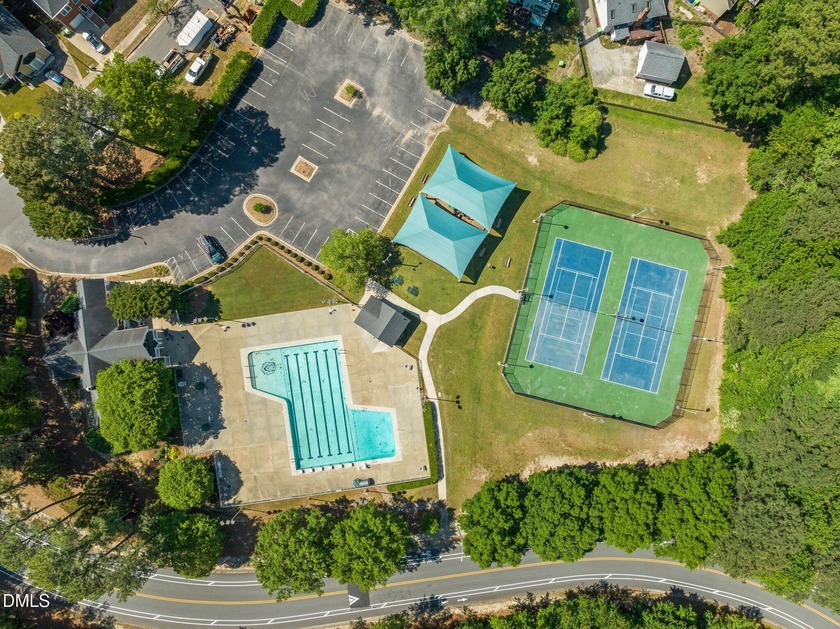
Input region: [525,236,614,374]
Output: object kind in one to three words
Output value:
tennis court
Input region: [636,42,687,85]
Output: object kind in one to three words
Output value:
building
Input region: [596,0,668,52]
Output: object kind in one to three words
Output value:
house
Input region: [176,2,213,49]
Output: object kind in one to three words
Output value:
trailer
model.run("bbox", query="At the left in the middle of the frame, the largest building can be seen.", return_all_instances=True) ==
[44,279,180,388]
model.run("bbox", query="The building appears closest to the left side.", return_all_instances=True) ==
[0,2,68,103]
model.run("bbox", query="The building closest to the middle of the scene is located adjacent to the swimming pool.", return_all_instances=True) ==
[354,295,411,346]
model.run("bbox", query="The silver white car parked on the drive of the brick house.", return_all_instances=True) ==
[80,30,107,56]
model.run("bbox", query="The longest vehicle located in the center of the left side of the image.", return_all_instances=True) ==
[201,233,224,264]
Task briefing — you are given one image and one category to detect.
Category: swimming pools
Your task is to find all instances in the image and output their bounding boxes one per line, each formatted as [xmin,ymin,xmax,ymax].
[240,335,402,476]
